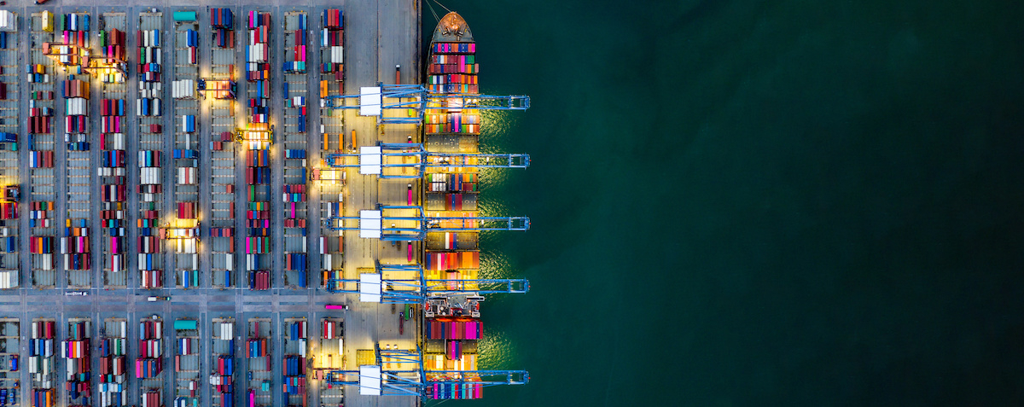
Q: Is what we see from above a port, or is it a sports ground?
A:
port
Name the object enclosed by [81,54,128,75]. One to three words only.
container crane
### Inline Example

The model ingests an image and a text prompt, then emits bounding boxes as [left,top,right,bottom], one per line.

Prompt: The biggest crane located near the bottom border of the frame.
[325,339,530,397]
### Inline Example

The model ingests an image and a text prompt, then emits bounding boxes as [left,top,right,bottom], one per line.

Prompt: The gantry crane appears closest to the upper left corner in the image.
[42,41,92,62]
